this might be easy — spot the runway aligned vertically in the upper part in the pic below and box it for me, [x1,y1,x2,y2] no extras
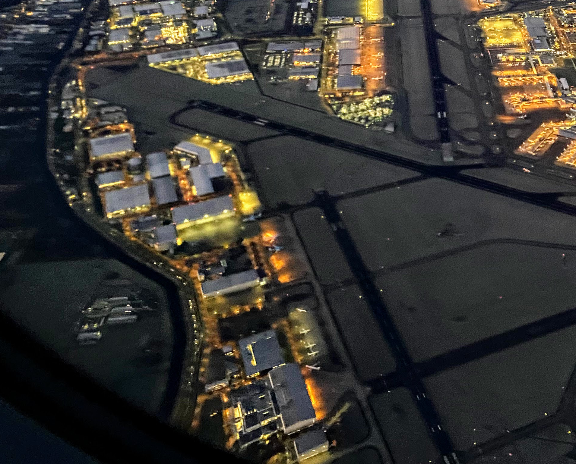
[420,0,454,148]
